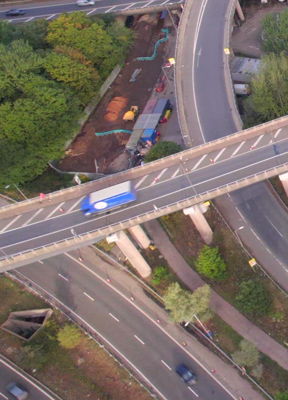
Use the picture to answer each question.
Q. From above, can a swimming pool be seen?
No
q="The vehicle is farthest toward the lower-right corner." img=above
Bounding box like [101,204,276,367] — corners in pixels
[175,362,197,386]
